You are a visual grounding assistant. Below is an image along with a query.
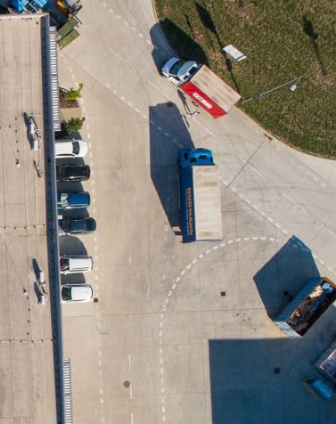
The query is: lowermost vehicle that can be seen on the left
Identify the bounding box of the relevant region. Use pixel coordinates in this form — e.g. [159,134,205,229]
[60,282,99,303]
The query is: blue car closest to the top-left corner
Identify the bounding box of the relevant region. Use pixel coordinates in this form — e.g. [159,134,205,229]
[55,189,93,209]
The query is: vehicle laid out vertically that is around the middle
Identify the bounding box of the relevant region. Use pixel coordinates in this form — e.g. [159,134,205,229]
[173,144,222,245]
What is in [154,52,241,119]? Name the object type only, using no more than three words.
truck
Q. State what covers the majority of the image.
paved ground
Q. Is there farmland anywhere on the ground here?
No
